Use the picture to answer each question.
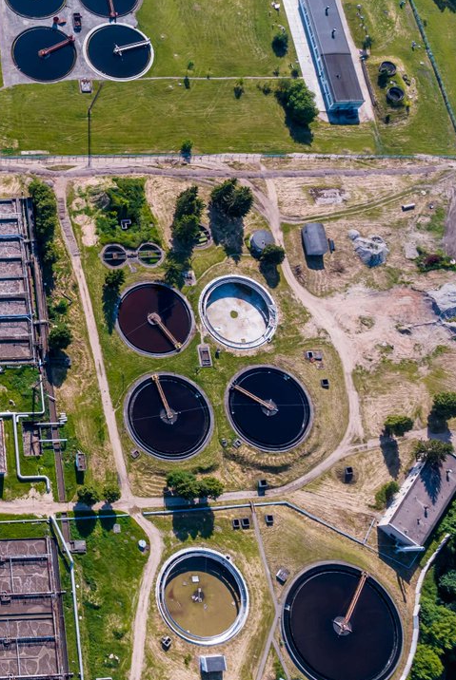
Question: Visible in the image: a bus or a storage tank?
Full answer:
It is a storage tank that can be seen here.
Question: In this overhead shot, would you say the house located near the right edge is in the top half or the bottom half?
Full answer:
The house located near the right edge is in the bottom half of the image.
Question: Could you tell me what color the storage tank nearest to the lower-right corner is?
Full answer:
The color of the storage tank nearest to the lower-right corner is black.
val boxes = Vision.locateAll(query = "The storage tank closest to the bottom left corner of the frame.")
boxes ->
[157,550,251,647]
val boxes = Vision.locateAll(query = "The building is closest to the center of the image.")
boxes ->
[299,222,328,260]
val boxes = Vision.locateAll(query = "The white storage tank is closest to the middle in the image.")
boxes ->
[200,275,280,350]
